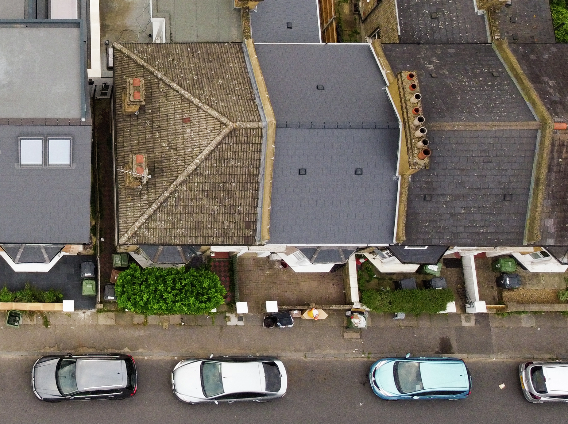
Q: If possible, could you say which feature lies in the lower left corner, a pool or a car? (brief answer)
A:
car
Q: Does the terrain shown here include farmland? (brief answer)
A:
No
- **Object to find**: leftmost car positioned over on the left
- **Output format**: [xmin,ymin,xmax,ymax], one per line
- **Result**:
[31,348,137,405]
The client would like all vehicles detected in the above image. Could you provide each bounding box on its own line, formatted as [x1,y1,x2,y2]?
[510,357,568,404]
[169,349,287,407]
[31,348,137,405]
[364,351,473,406]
